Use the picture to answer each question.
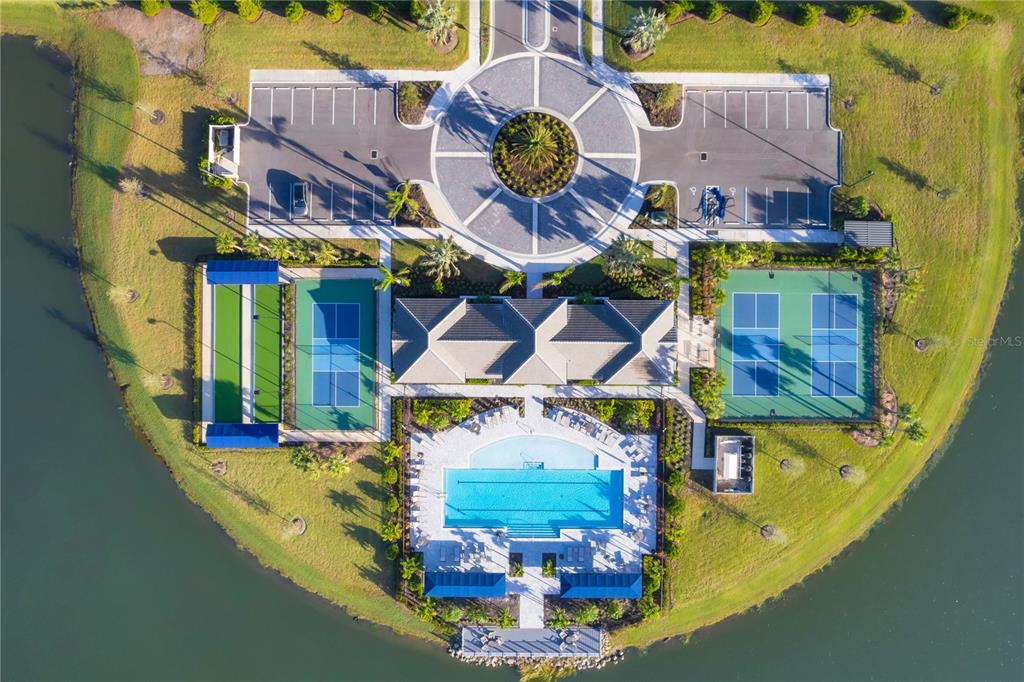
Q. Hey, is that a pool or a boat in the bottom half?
pool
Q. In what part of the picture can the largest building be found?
center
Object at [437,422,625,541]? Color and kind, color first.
blue swimming pool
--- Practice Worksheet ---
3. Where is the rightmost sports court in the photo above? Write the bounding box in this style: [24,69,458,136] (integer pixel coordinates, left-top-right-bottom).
[796,270,875,421]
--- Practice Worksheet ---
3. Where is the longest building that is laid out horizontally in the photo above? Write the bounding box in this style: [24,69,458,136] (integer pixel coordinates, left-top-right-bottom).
[390,294,680,385]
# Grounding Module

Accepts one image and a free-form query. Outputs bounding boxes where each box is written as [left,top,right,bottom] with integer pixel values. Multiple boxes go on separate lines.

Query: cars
[290,182,309,219]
